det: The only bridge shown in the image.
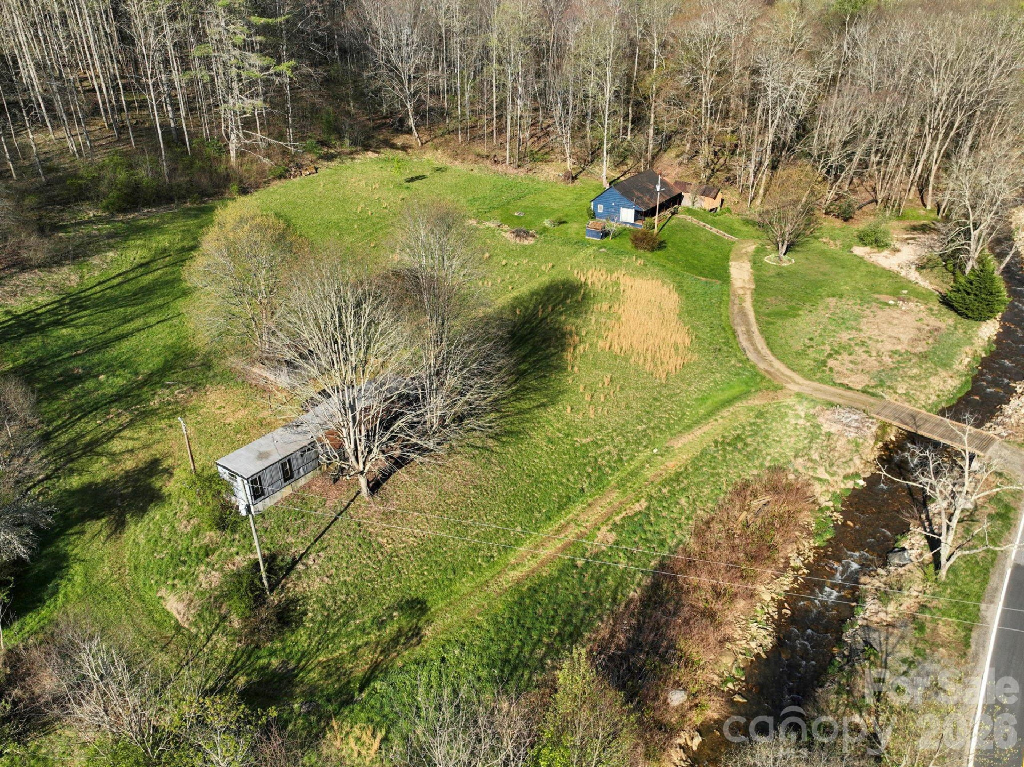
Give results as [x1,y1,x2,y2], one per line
[862,398,1006,467]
